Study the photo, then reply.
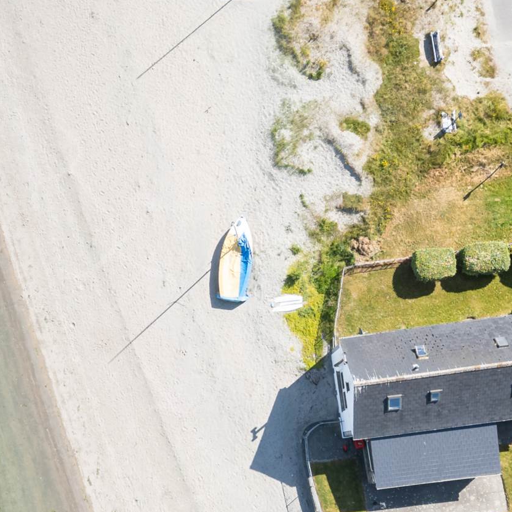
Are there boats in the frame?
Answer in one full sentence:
Yes, there is a boat in the image.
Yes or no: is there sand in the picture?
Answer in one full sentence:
Yes, there is sand in the image.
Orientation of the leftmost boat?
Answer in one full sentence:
Seen from above, the leftmost boat lies from top to bottom.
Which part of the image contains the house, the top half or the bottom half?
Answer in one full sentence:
Seen from above, the house lies in the bottom half of the view.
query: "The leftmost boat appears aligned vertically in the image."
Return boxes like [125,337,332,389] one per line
[217,216,251,302]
